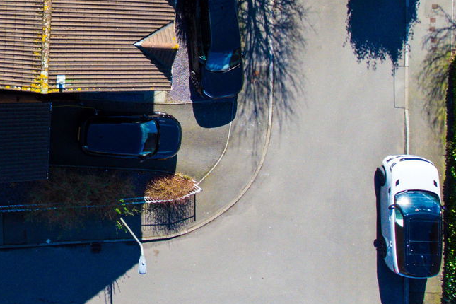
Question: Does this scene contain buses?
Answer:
No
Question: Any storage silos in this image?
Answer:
No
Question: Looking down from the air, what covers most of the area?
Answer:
paved ground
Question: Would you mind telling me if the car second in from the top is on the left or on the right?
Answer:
left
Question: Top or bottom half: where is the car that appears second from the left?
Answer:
top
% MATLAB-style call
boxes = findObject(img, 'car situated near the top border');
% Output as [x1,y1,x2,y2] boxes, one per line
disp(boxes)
[189,0,248,97]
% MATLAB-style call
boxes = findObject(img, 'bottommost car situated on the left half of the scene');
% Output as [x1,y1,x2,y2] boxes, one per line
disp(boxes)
[77,111,182,168]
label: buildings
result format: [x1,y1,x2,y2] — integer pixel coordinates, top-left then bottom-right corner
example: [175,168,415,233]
[0,97,54,182]
[0,0,181,94]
